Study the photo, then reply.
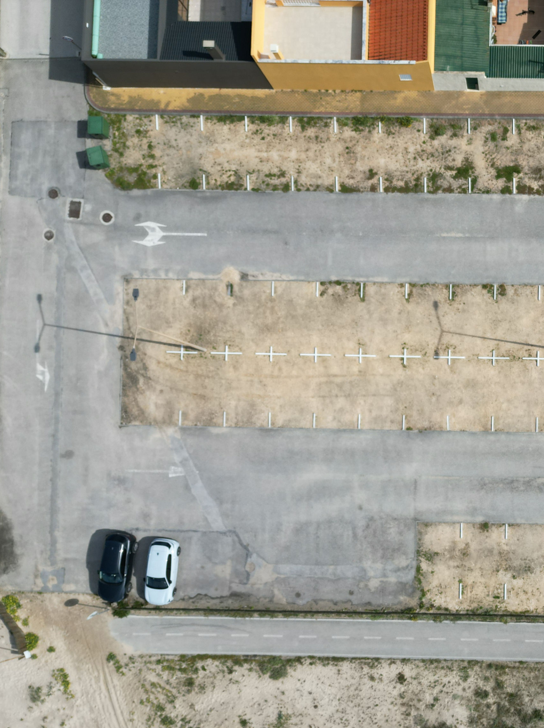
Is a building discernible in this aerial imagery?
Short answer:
Yes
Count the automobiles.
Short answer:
two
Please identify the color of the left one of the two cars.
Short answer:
black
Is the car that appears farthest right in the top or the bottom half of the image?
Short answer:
bottom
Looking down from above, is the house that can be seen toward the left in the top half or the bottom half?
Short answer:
top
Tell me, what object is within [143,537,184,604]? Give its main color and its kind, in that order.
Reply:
white car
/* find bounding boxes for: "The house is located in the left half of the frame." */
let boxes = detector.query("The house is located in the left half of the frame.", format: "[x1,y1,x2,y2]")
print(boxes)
[82,0,273,90]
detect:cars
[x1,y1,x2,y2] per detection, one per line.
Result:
[143,537,184,604]
[96,531,139,602]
